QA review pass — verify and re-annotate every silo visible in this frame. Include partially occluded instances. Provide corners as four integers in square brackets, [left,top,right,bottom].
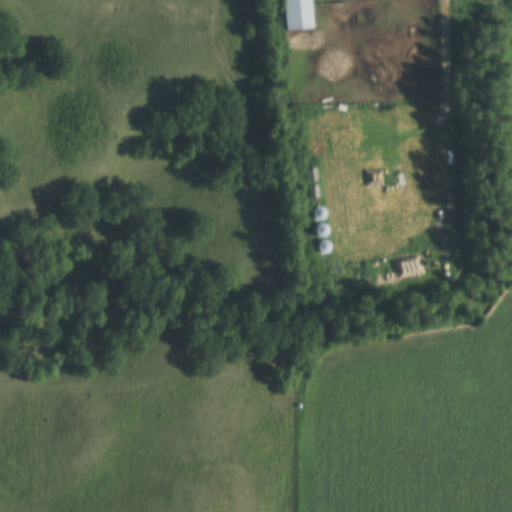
[312,206,328,221]
[316,222,330,238]
[318,240,333,255]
